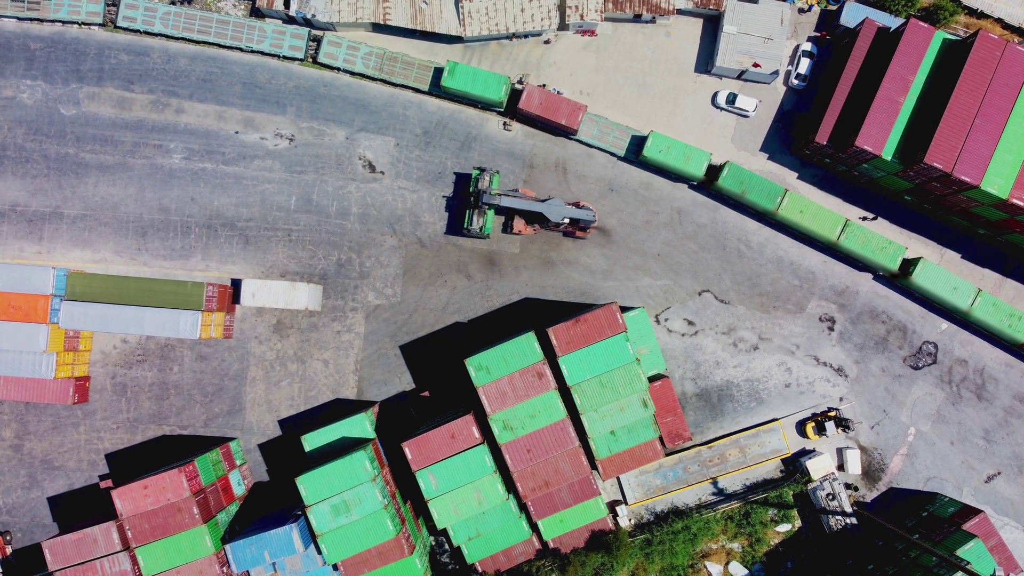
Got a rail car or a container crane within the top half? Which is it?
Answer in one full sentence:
Looking within the top half, you will find a rail car.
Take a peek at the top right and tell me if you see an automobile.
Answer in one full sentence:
Yes, looking at the top right, one can make out an automobile.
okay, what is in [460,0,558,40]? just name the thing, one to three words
shed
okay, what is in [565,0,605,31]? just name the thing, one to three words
shed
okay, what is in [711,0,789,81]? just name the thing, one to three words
house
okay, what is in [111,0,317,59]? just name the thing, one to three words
rail car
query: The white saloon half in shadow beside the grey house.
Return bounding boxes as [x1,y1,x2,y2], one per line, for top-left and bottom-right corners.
[791,41,820,91]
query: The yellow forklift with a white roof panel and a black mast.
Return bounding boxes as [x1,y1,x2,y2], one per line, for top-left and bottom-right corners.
[804,414,857,444]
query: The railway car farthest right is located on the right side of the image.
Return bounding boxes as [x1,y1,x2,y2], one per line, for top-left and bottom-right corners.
[891,255,1024,352]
